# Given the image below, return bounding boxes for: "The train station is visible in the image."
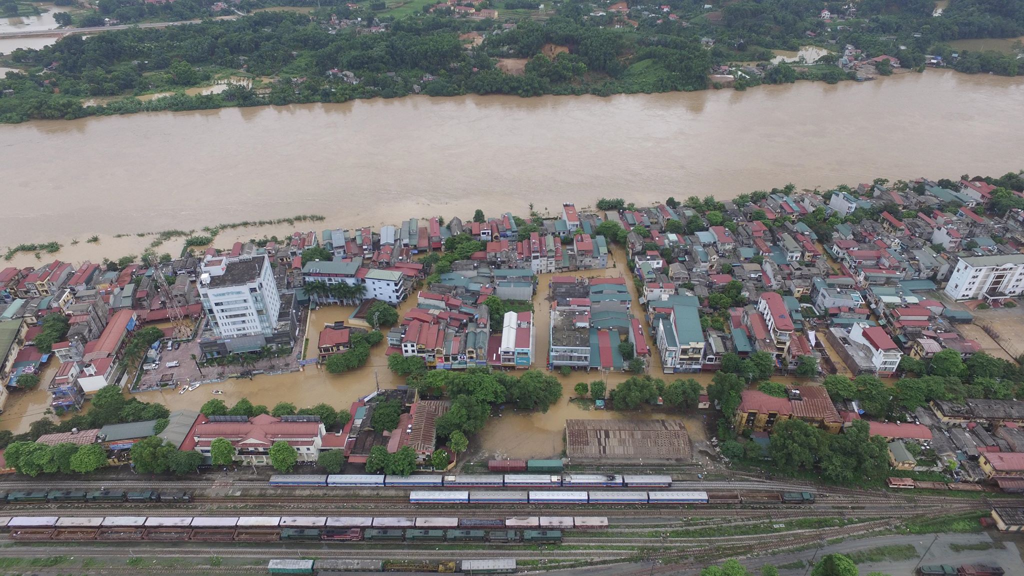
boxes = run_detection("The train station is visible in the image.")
[193,410,323,464]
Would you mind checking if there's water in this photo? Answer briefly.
Yes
